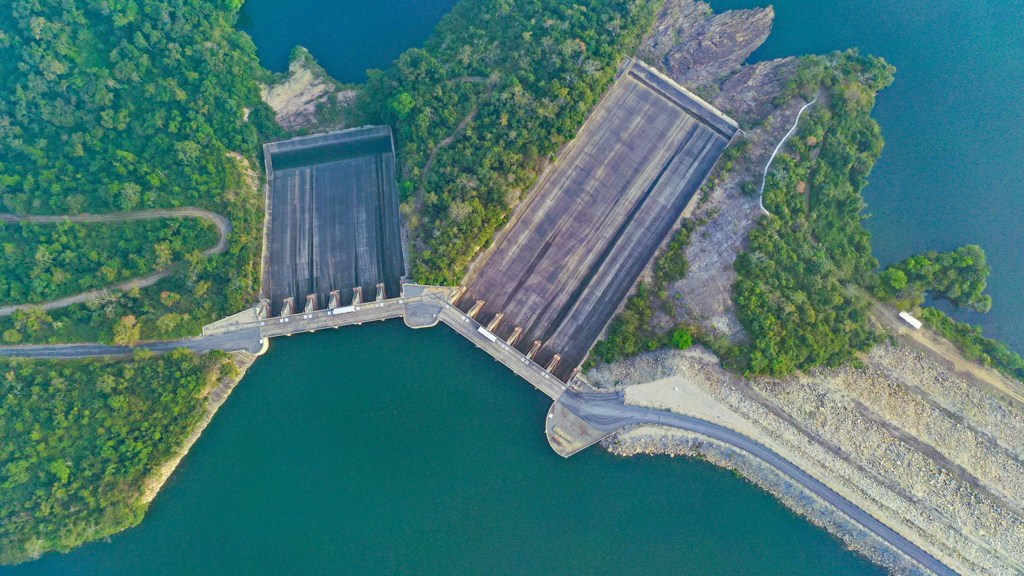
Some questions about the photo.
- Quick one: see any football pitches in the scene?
No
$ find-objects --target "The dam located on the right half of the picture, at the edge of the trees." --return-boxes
[590,343,1024,576]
